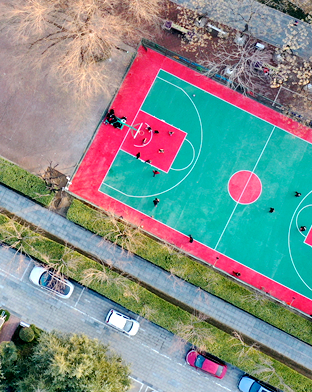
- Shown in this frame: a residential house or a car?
car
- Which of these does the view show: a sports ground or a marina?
sports ground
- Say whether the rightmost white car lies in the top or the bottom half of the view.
bottom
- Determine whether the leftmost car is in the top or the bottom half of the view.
bottom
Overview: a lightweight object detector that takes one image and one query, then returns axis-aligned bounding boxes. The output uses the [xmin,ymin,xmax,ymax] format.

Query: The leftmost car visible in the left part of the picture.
[28,266,76,301]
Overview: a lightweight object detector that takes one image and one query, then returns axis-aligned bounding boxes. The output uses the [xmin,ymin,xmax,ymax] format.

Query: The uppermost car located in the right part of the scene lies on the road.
[183,346,230,380]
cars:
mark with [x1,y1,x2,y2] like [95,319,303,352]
[235,374,277,392]
[183,346,230,380]
[101,305,142,336]
[28,266,76,301]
